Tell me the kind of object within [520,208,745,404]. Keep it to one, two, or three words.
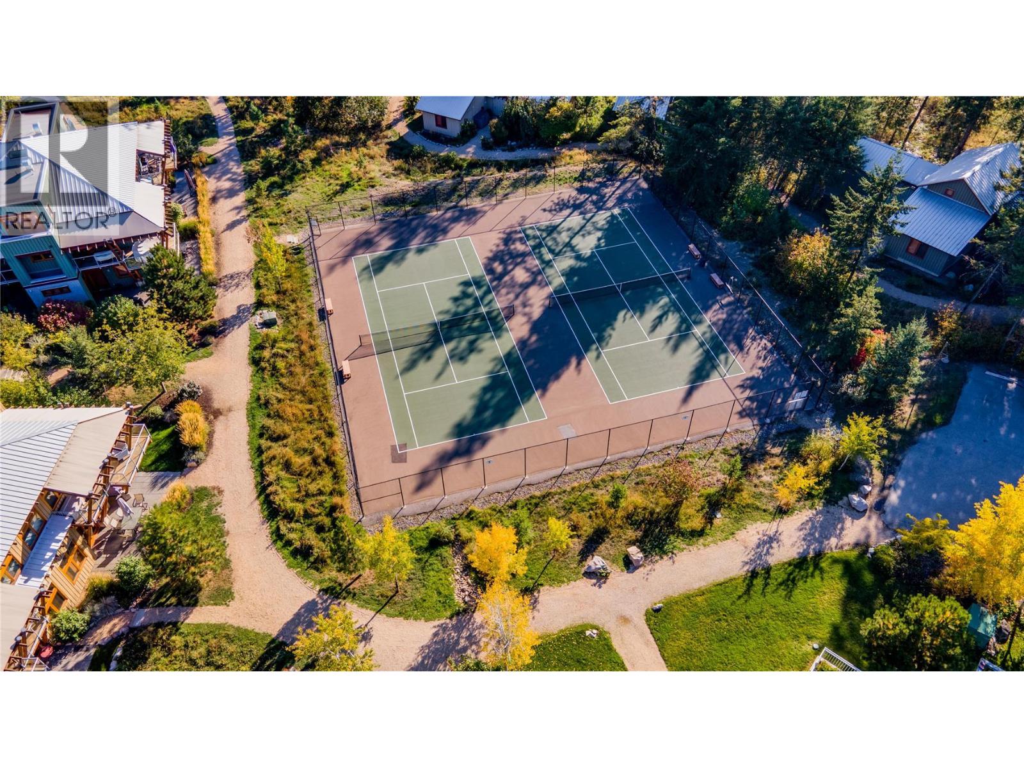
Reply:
tennis court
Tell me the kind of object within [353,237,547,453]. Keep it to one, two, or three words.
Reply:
tennis court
